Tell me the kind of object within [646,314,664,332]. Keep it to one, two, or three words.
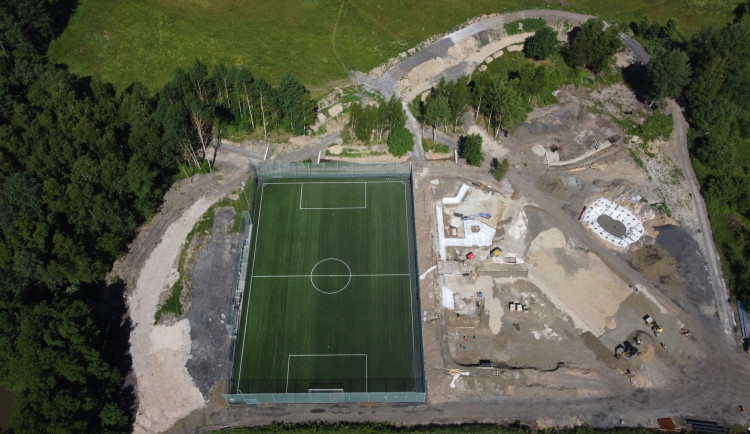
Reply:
vehicle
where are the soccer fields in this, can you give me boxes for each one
[230,176,423,402]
